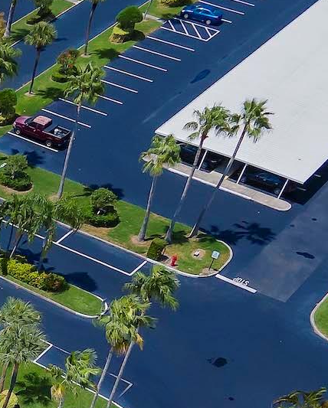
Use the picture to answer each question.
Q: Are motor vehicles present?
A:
Yes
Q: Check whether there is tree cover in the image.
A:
Yes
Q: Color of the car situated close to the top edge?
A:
blue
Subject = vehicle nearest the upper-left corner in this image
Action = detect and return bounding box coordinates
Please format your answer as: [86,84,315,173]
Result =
[18,115,73,144]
